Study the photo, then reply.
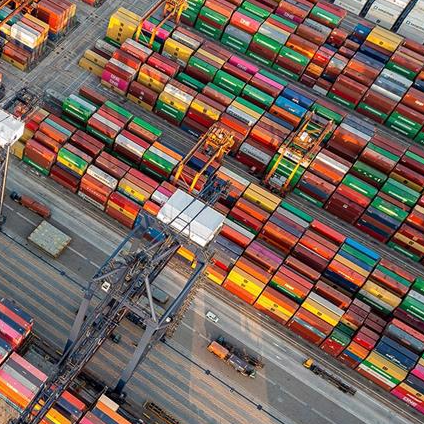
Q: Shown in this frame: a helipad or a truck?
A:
truck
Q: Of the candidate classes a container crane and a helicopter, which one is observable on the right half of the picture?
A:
container crane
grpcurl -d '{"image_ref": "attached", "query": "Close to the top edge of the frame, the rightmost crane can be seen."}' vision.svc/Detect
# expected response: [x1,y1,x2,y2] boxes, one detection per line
[133,0,188,50]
